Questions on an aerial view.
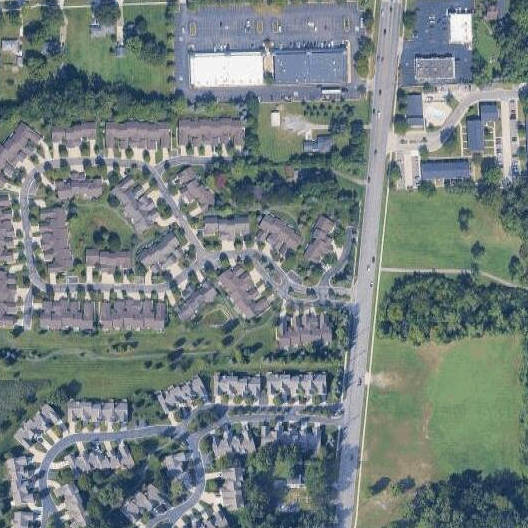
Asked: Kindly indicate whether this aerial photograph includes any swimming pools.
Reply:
Yes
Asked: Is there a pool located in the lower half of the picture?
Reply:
No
